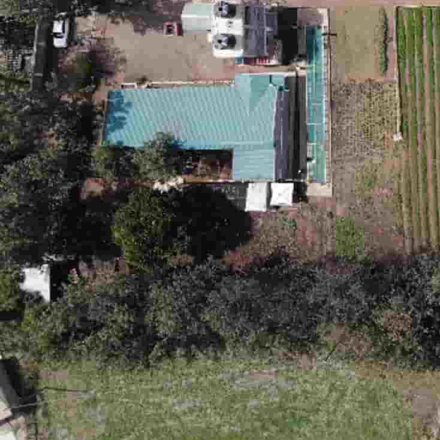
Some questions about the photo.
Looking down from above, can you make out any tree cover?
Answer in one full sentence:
Yes, there's tree cover in this view.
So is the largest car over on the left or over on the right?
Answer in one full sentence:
You can find the largest car on the left side of the picture.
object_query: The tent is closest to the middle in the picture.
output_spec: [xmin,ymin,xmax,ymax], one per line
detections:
[246,181,274,211]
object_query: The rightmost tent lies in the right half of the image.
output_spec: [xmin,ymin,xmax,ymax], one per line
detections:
[270,181,298,207]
